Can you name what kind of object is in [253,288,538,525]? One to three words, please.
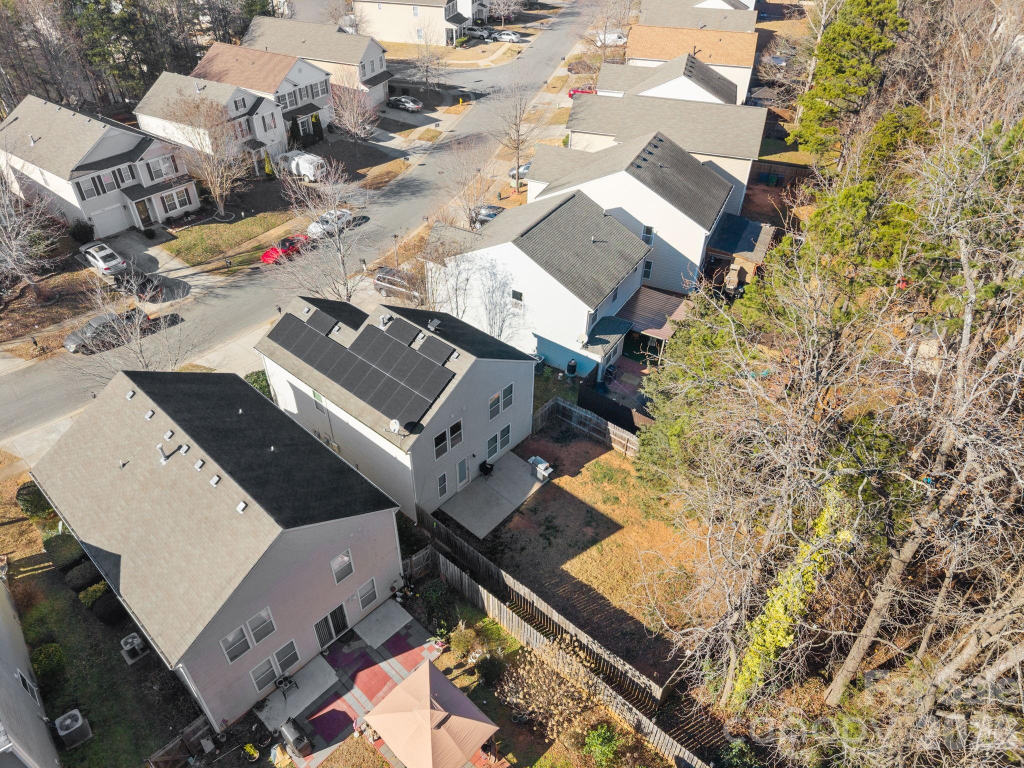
house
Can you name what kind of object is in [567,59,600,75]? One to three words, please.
car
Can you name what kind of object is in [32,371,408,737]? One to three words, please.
house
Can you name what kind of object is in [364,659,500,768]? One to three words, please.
gazebo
